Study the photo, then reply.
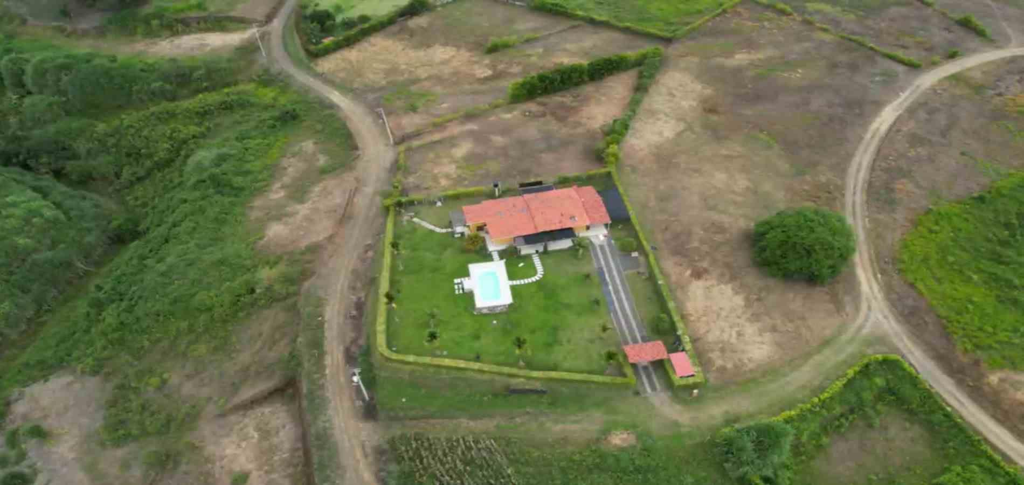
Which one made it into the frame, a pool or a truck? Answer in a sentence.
Visible in the photo is a pool.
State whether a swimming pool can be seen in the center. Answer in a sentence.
Yes, a swimming pool can be seen in the center.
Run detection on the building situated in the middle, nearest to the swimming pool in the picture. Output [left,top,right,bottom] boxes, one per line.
[451,176,611,260]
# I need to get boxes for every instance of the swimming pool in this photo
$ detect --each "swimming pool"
[461,260,514,313]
